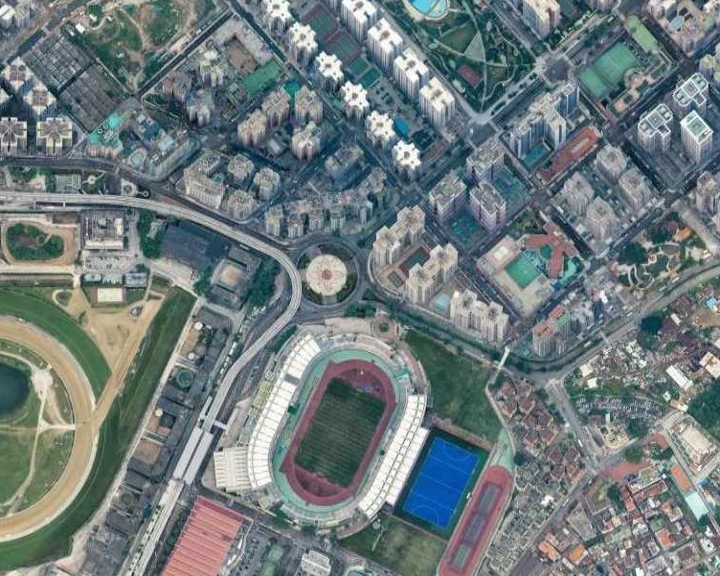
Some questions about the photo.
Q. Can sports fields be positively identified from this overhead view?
Yes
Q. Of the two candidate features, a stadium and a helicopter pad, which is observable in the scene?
stadium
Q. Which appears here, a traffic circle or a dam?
traffic circle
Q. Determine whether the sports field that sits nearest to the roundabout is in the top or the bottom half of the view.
bottom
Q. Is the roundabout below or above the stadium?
above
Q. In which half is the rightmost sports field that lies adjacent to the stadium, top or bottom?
bottom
